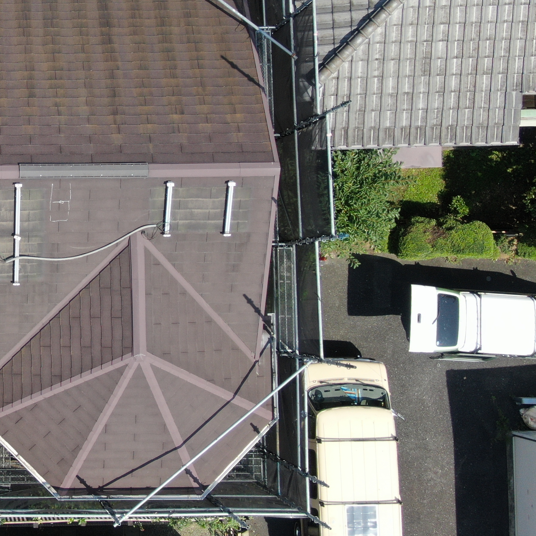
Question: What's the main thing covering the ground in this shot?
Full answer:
What you mostly see from above here is buildings.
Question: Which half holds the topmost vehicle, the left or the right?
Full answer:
It is on the right.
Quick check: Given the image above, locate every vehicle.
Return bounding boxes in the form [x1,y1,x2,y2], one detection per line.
[291,356,409,536]
[412,285,536,370]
